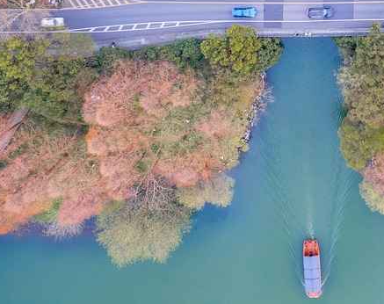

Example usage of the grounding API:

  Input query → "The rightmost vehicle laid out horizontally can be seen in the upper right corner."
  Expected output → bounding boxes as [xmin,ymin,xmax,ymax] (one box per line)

[307,8,334,20]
